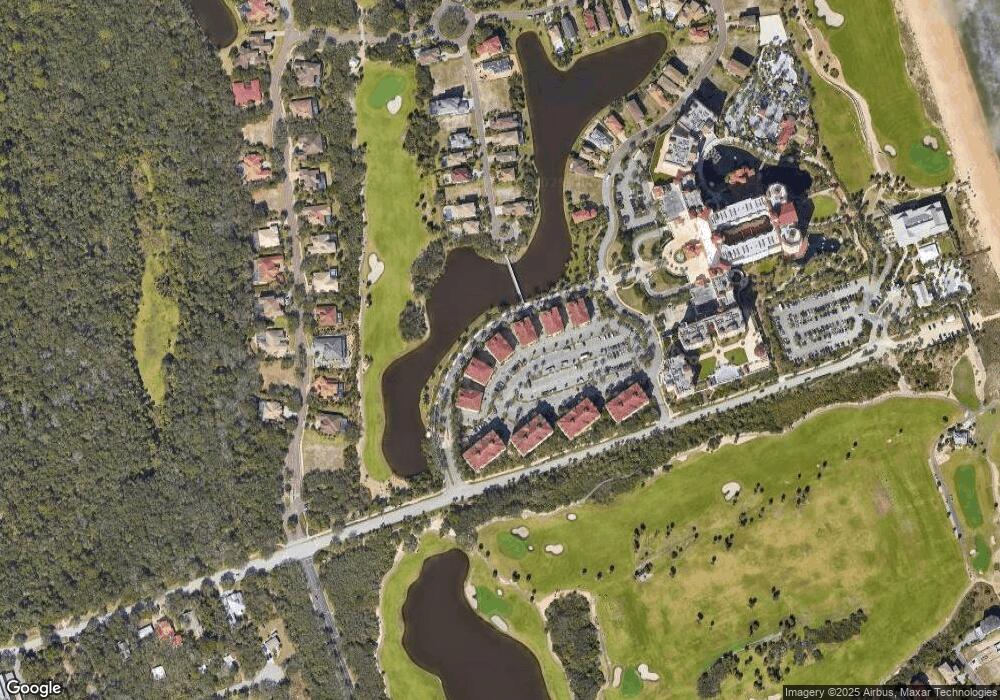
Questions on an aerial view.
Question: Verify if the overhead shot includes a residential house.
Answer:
Yes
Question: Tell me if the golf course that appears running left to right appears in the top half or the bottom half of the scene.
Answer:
bottom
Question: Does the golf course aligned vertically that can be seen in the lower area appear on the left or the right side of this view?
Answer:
right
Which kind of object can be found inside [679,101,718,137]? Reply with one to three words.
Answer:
building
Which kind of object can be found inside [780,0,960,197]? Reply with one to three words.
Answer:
golf course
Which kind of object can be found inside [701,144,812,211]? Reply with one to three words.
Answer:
pond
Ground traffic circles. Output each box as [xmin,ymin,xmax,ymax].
[432,2,476,44]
